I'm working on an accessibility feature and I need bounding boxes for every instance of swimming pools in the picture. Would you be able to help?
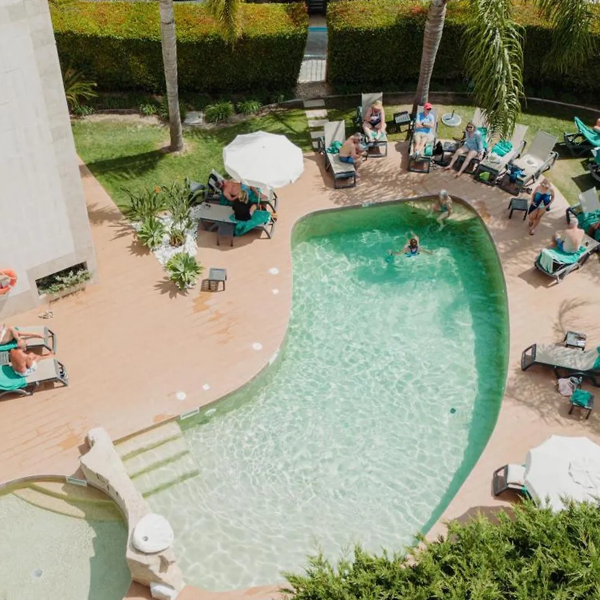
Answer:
[0,472,132,600]
[114,193,513,595]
